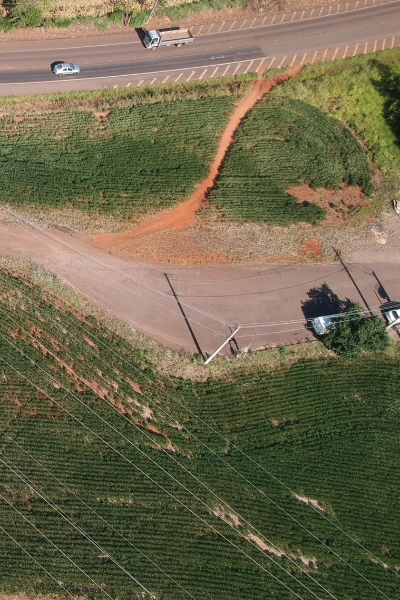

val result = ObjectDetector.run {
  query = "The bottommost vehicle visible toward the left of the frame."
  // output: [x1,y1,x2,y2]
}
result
[53,63,82,77]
